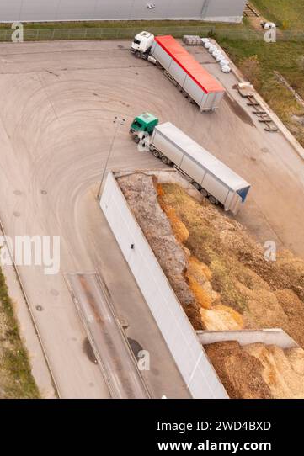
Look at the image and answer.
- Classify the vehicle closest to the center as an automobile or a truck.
truck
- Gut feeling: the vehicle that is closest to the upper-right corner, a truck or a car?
truck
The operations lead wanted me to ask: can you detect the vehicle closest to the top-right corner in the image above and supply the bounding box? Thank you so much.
[140,37,225,112]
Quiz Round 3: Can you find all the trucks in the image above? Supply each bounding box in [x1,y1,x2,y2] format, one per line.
[140,37,225,112]
[134,120,252,214]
